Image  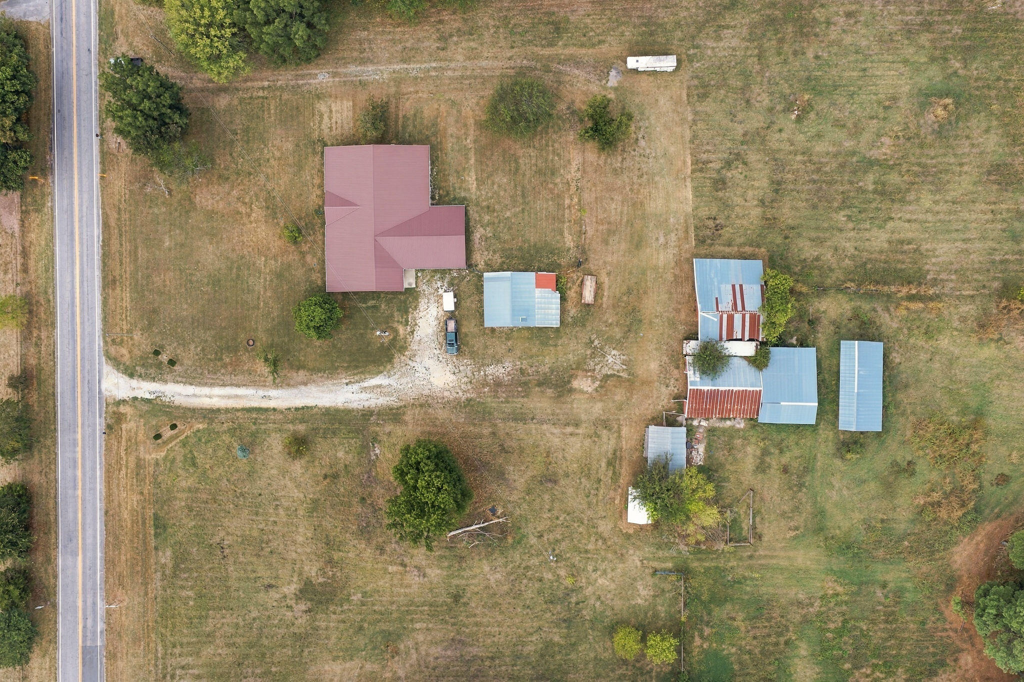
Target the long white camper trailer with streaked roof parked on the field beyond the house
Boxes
[626,55,676,73]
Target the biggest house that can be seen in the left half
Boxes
[324,144,467,293]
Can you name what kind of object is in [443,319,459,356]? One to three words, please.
vehicle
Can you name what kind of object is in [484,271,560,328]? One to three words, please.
building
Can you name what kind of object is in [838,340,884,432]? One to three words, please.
shed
